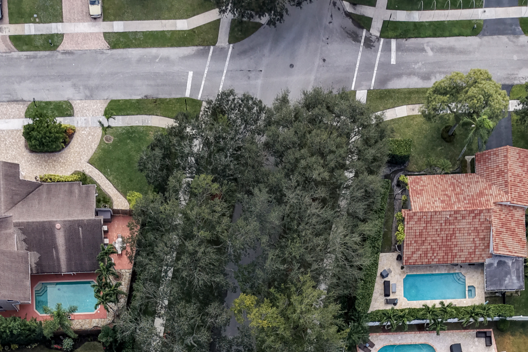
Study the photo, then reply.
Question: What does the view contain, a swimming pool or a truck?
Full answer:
It is a swimming pool that can be seen here.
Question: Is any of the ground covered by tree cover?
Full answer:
Yes, tree cover can be seen from above here.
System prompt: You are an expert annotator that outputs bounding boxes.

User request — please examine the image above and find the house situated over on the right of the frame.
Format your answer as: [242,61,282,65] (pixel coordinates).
[398,145,528,298]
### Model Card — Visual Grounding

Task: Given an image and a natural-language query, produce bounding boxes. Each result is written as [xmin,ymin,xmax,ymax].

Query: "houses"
[398,145,528,298]
[0,160,104,311]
